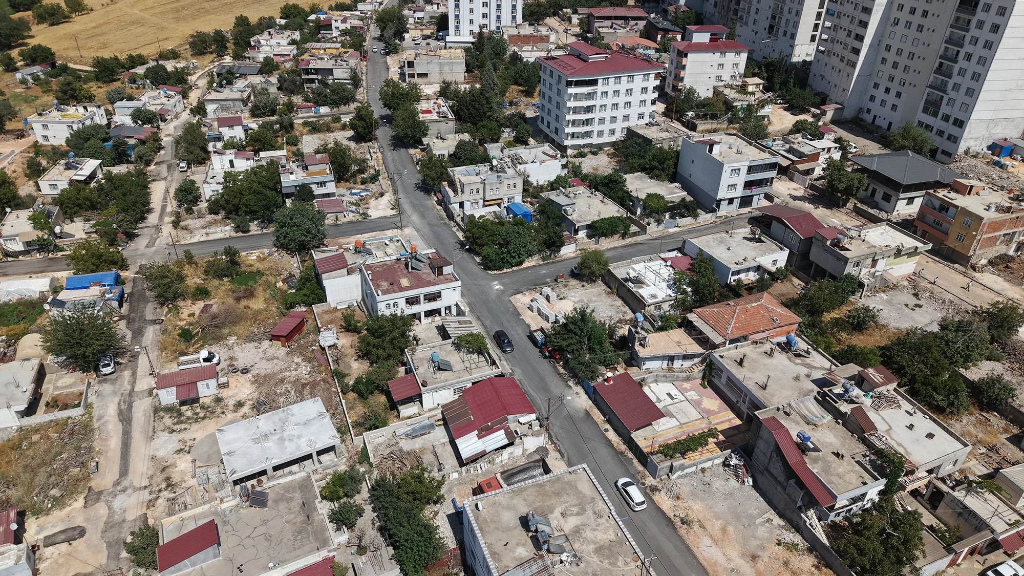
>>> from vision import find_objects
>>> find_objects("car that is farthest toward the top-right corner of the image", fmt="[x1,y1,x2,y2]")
[843,137,859,152]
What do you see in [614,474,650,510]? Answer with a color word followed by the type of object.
white car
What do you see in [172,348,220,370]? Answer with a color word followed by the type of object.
white truck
